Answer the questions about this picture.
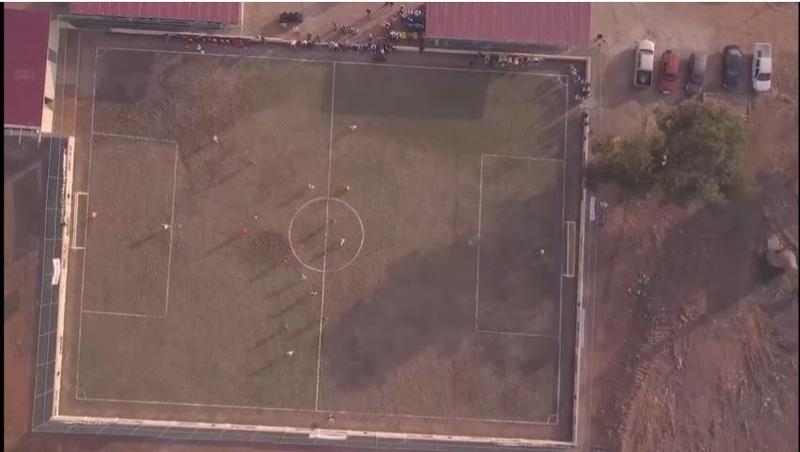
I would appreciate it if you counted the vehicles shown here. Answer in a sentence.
The picture shows 5 vehicles.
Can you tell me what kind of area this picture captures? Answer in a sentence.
This image shows a sports ground.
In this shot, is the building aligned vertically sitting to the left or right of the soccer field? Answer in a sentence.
From the viewer's perspective, the building aligned vertically falls to the left of the soccer field.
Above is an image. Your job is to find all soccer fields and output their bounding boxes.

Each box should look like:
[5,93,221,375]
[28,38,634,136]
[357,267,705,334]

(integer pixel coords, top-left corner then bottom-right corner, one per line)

[57,33,585,440]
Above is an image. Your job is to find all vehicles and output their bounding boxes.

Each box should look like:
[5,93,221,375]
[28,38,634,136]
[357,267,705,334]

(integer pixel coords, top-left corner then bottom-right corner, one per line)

[748,42,773,94]
[655,52,678,94]
[719,44,744,91]
[630,41,655,91]
[682,52,705,95]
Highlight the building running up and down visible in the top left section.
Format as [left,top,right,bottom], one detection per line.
[0,7,62,145]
